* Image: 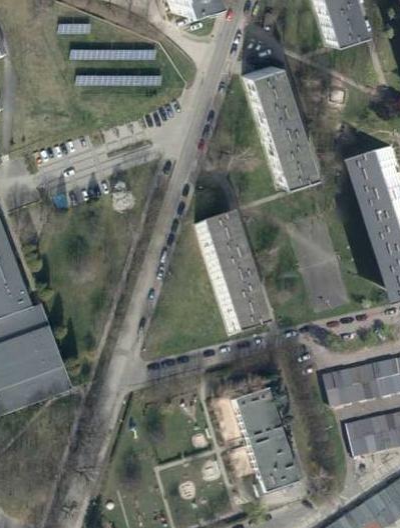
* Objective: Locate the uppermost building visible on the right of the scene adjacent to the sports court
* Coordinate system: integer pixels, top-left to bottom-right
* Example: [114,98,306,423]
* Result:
[242,71,320,193]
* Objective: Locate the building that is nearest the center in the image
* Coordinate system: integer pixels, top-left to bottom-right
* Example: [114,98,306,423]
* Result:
[195,210,273,331]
